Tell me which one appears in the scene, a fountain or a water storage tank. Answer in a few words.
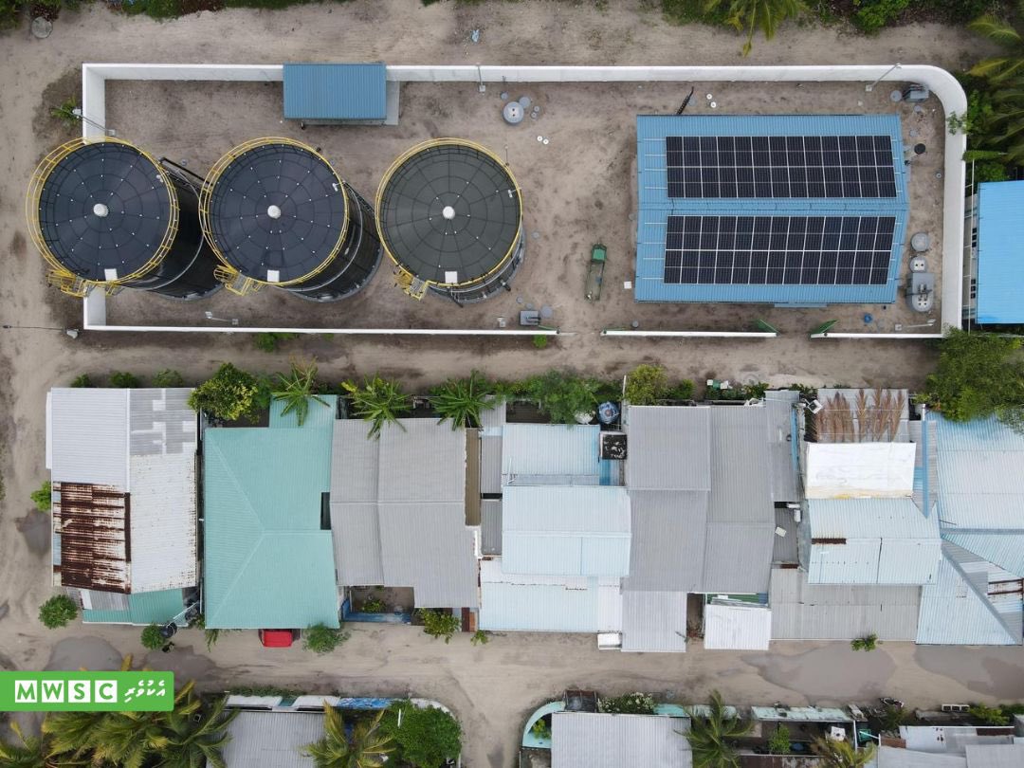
water storage tank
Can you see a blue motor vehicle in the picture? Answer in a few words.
No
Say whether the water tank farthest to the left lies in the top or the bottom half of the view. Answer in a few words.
top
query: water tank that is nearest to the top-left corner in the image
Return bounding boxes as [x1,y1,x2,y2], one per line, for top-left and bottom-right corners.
[24,132,234,301]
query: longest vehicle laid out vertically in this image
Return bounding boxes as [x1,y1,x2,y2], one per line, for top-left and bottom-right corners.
[584,245,610,301]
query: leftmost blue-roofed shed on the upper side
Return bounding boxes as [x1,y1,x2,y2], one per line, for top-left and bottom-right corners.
[283,62,390,131]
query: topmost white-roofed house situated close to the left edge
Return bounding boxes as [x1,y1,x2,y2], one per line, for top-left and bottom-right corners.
[50,388,198,594]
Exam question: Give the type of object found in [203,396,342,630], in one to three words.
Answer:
house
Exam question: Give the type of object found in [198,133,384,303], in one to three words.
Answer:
water tank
